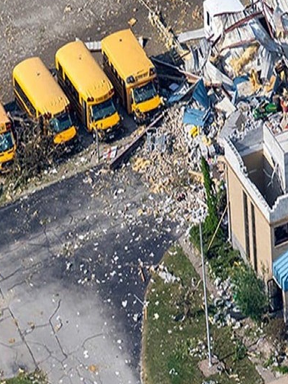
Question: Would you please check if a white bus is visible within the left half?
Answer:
No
